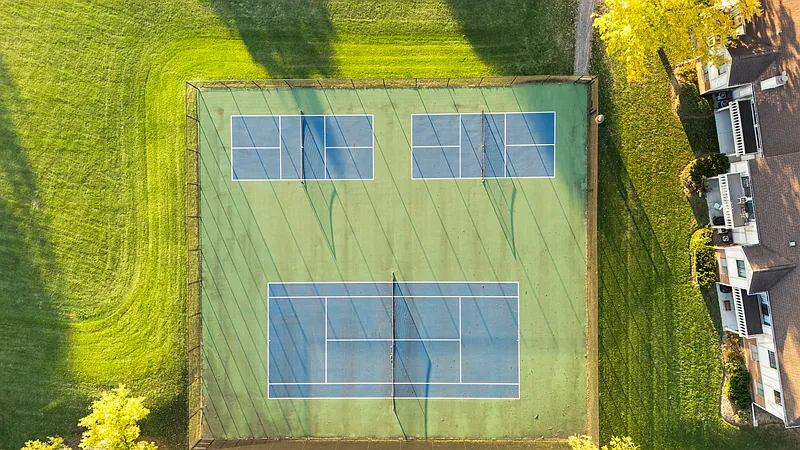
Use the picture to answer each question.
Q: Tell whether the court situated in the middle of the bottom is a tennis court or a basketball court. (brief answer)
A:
tennis court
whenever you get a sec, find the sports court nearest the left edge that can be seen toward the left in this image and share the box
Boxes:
[230,114,374,180]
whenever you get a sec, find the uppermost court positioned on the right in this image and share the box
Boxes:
[411,111,556,179]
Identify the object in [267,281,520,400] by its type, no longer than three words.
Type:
tennis court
